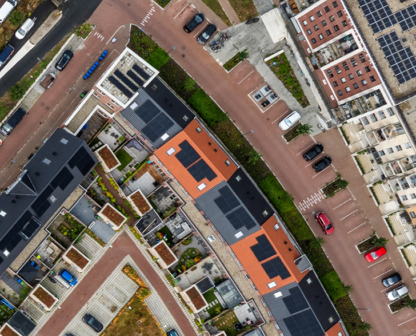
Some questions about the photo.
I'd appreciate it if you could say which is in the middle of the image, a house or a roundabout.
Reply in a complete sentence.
Looking in the middle of the image, you will find a house.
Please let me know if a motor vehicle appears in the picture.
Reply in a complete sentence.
Yes, looking at the shot, I can spot a motor vehicle.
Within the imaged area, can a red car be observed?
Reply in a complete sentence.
Yes, you can see a red car in this photo.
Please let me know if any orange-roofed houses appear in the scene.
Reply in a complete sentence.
Yes, this view includes an orange-roofed house.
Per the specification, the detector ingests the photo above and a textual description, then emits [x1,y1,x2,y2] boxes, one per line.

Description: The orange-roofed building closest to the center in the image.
[145,117,240,200]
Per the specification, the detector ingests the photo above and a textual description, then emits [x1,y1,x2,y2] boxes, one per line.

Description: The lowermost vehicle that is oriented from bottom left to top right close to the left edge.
[0,108,25,138]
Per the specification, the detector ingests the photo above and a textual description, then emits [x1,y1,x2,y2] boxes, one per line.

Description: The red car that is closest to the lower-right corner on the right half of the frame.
[361,247,388,263]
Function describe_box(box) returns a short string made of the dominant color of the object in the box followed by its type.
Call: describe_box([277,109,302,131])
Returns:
white car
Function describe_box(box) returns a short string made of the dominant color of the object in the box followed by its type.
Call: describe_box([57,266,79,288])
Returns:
blue car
